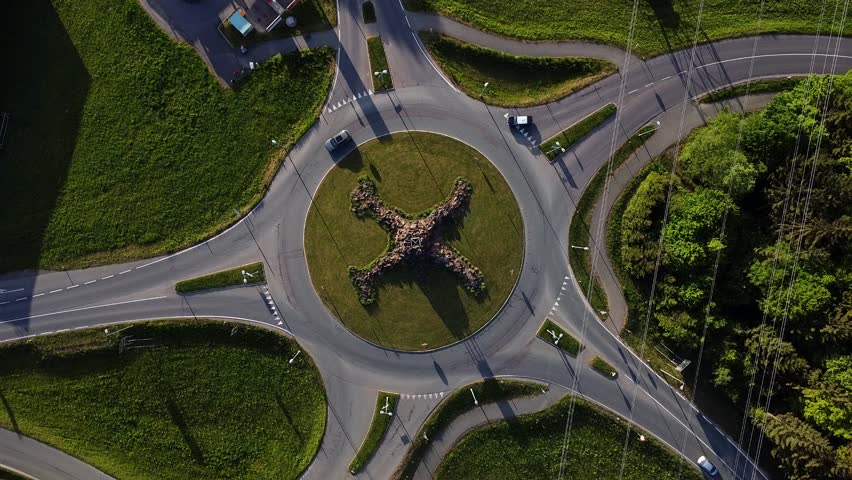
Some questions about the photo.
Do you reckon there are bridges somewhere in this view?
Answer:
No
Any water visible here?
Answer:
No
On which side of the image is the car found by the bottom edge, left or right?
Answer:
right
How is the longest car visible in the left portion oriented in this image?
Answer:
on a diagonal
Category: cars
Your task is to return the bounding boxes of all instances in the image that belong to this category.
[507,115,533,128]
[695,453,719,479]
[324,128,353,153]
